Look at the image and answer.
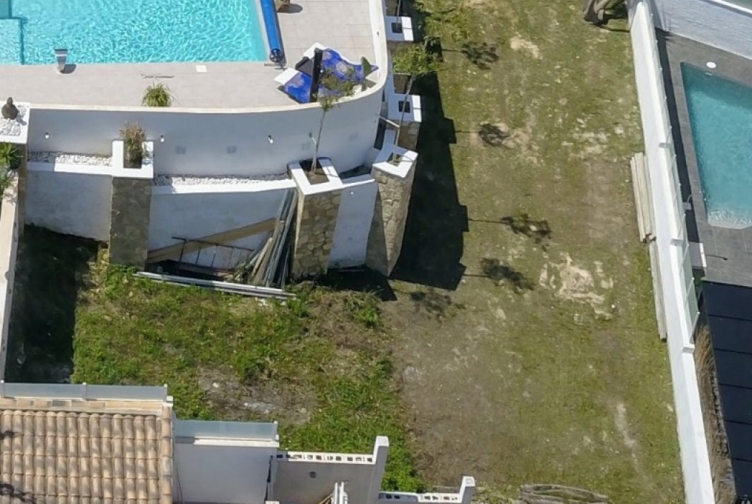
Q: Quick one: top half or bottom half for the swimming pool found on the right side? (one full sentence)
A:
The swimming pool found on the right side sits in the top half of the picture.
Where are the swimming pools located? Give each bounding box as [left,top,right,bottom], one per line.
[683,64,752,231]
[0,0,263,65]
